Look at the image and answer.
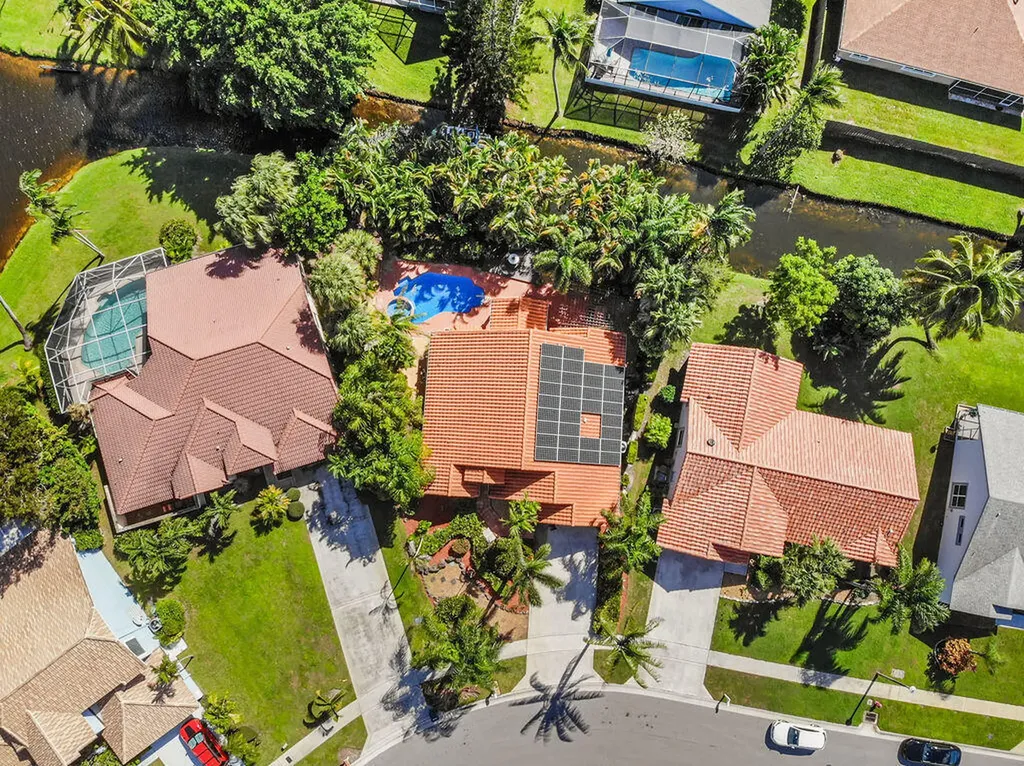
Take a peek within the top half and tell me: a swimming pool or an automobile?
swimming pool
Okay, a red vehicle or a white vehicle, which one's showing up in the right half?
white vehicle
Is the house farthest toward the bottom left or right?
left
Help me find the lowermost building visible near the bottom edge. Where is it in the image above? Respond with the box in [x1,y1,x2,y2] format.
[0,531,204,766]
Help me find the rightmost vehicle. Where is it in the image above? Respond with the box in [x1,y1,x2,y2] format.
[901,738,967,766]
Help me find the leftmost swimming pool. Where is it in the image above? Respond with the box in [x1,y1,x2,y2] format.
[79,273,148,379]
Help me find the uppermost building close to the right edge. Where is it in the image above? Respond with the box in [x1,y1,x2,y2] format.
[838,0,1024,99]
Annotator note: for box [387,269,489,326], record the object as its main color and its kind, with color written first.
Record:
blue swimming pool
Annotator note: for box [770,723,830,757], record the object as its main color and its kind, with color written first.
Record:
white car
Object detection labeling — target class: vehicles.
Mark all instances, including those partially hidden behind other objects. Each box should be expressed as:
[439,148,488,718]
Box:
[901,738,967,766]
[770,723,830,757]
[180,717,226,766]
